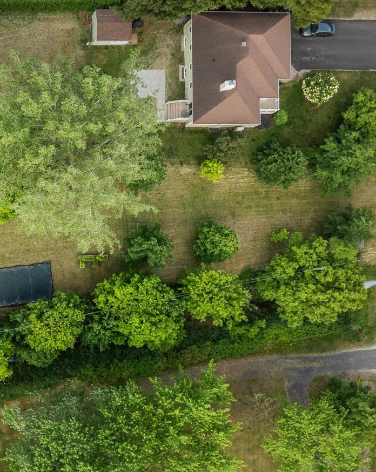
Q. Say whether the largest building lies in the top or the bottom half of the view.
top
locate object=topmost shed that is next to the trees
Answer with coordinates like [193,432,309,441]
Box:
[92,9,136,47]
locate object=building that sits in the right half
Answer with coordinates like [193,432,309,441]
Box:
[177,11,292,131]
